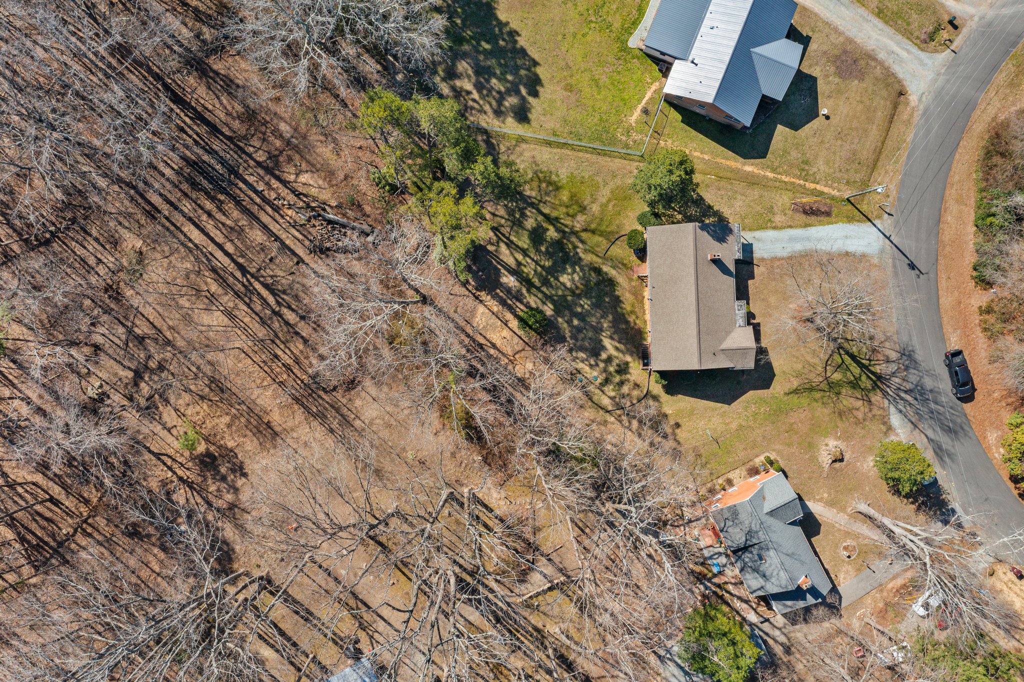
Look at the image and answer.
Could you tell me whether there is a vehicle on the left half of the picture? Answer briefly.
No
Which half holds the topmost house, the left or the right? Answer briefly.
right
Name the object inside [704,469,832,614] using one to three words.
house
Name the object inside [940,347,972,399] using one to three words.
truck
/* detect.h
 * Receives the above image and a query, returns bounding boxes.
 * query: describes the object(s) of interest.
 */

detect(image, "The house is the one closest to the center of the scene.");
[643,223,756,371]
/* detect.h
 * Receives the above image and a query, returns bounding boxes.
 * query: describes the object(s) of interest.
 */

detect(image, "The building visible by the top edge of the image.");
[642,0,803,131]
